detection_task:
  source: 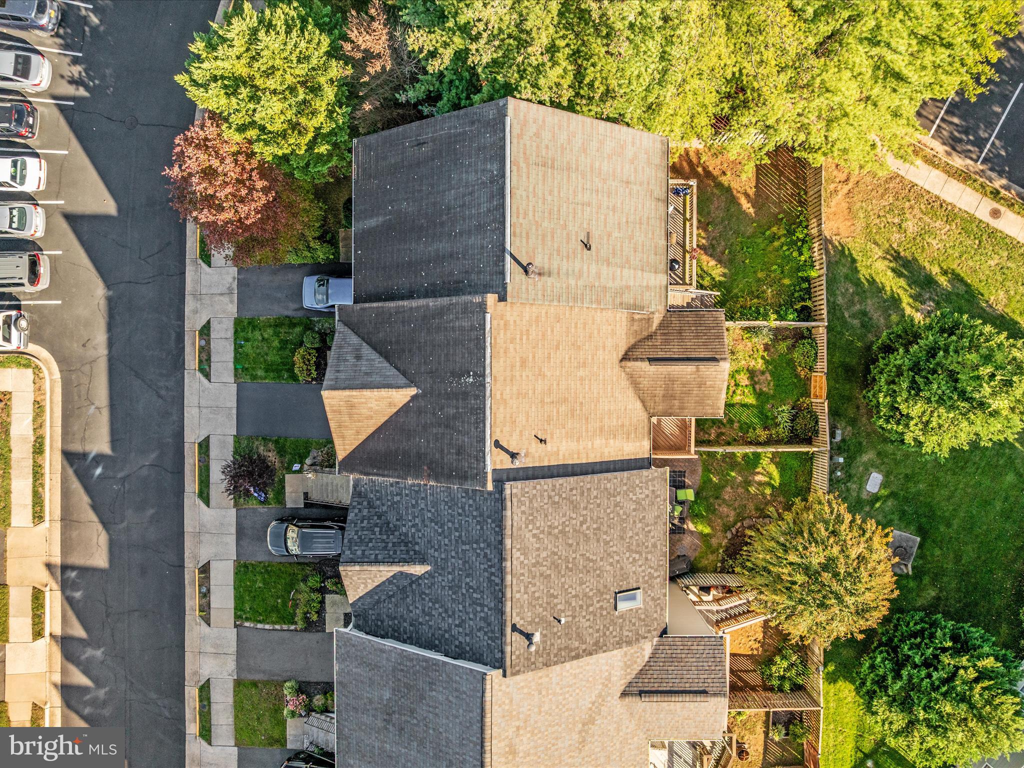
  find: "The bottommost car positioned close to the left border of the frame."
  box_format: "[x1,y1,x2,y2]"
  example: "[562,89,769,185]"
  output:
[0,313,30,348]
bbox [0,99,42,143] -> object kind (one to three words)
car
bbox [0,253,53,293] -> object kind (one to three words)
vehicle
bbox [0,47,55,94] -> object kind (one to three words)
car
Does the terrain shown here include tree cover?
Yes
